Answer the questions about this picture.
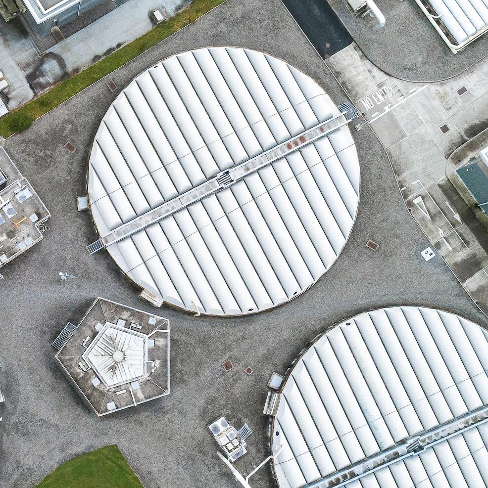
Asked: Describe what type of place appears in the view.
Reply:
industrial area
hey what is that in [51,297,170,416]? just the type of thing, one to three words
building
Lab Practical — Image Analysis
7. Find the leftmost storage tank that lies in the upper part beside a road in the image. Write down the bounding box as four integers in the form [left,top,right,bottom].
[78,43,363,320]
